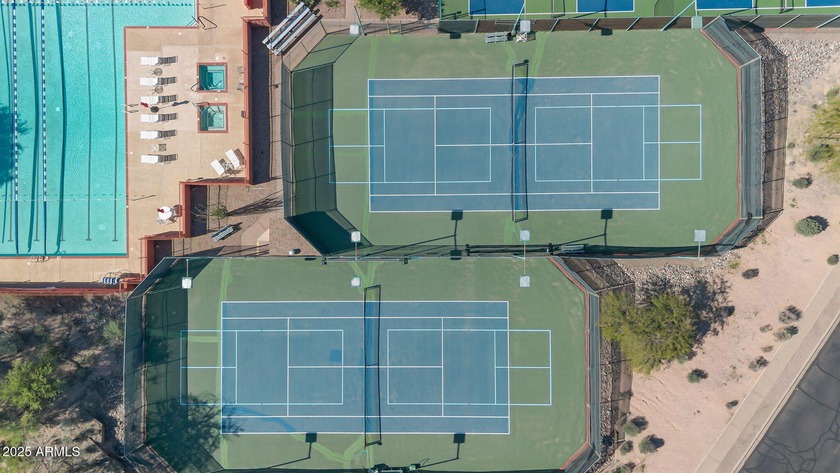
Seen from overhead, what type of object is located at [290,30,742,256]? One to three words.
tennis court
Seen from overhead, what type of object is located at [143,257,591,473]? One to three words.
tennis court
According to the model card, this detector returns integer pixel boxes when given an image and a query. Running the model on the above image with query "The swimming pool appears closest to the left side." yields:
[0,0,199,265]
